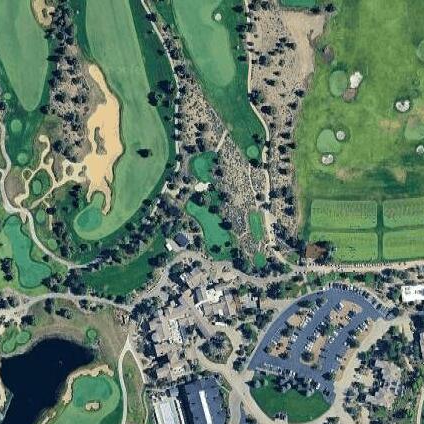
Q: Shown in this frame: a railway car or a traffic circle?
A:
traffic circle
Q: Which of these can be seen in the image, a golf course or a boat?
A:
golf course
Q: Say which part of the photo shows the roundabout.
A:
bottom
